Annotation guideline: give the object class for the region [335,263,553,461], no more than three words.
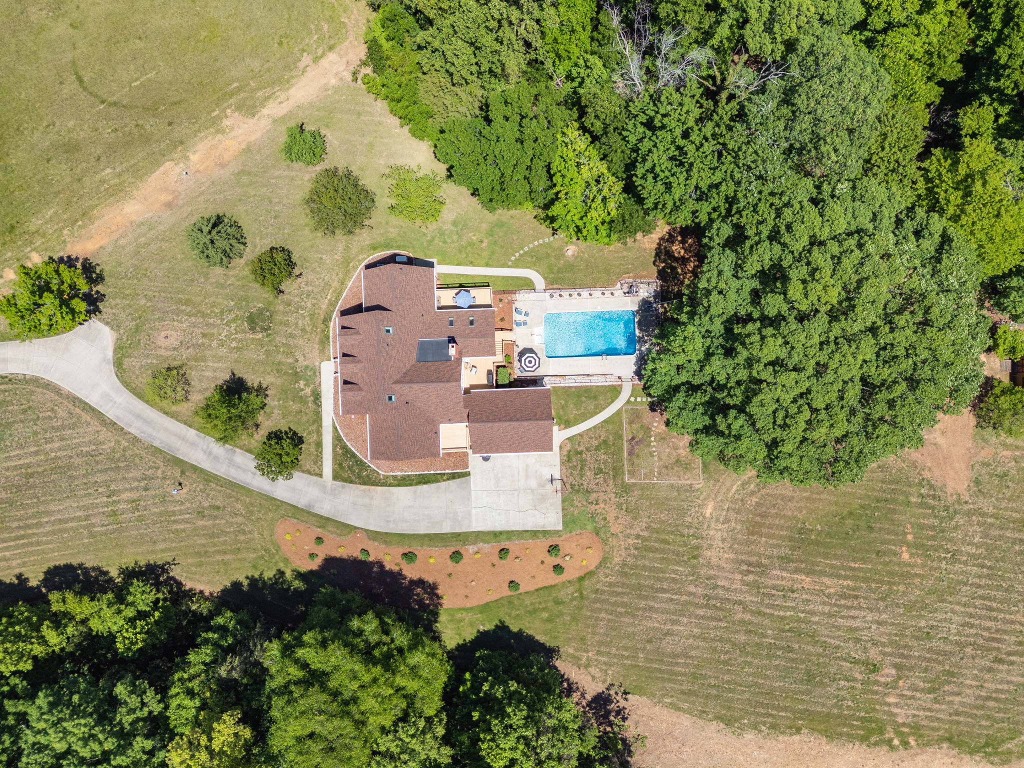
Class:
house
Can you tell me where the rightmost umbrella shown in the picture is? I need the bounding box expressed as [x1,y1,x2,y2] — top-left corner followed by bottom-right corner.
[521,352,540,372]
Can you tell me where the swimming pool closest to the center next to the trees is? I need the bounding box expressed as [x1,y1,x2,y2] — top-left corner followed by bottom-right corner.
[534,306,638,361]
